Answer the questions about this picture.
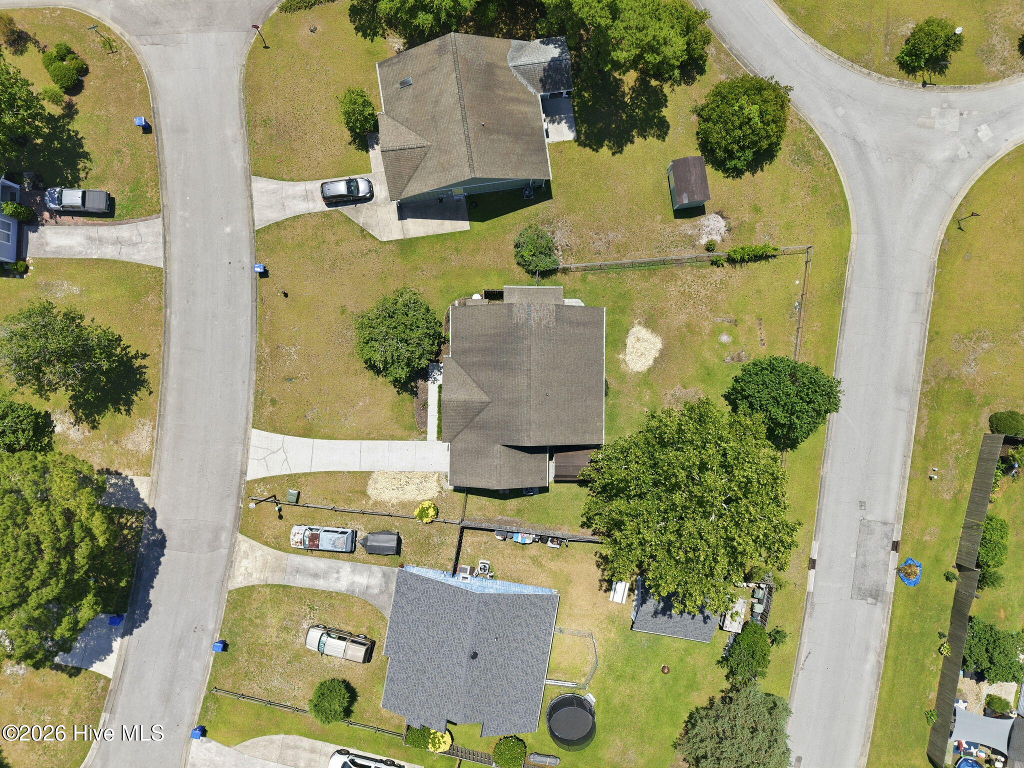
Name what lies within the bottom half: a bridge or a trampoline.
trampoline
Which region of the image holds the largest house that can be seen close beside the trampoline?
bottom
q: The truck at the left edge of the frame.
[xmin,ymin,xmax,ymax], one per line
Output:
[45,185,116,214]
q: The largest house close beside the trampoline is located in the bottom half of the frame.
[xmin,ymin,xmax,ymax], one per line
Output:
[381,566,559,737]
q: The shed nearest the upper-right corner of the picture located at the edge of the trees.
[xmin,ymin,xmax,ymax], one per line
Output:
[668,156,710,210]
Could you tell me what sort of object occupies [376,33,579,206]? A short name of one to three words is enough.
house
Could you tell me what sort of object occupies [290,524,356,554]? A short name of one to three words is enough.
car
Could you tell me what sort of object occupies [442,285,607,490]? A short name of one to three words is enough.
house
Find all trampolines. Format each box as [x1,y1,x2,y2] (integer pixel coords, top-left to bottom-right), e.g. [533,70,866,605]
[545,691,598,754]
